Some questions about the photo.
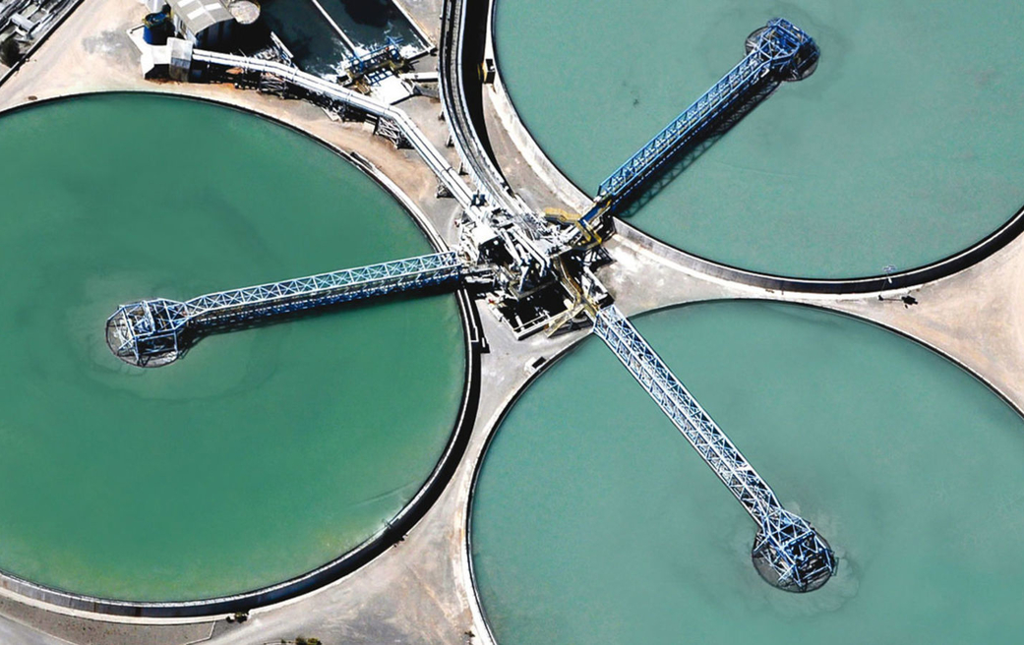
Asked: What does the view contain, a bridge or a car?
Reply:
bridge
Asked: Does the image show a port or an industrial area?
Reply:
industrial area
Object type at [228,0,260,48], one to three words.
silo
